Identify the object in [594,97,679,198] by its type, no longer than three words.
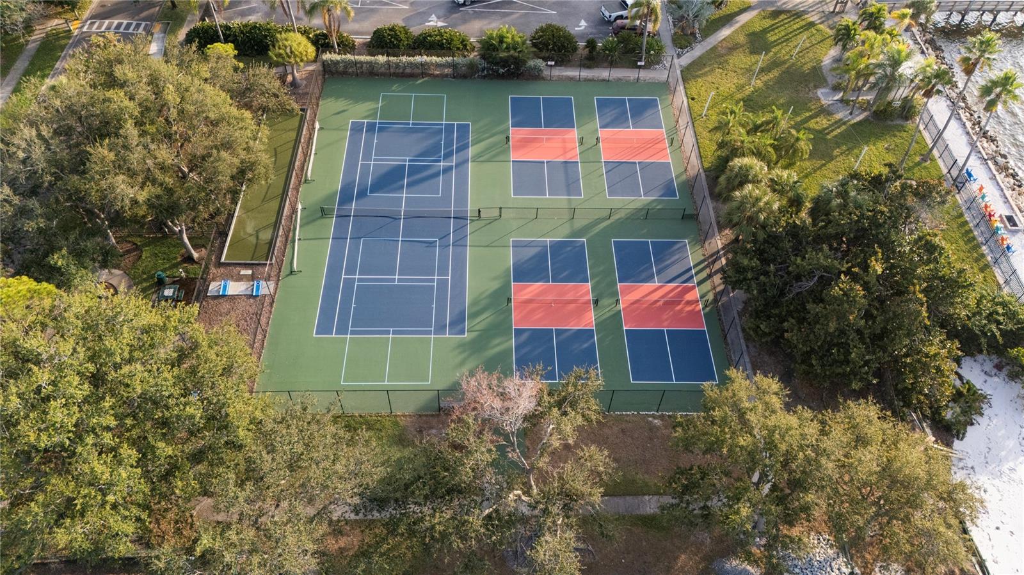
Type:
sports court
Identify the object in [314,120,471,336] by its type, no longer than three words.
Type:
tennis court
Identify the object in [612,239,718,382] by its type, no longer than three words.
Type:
sports court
